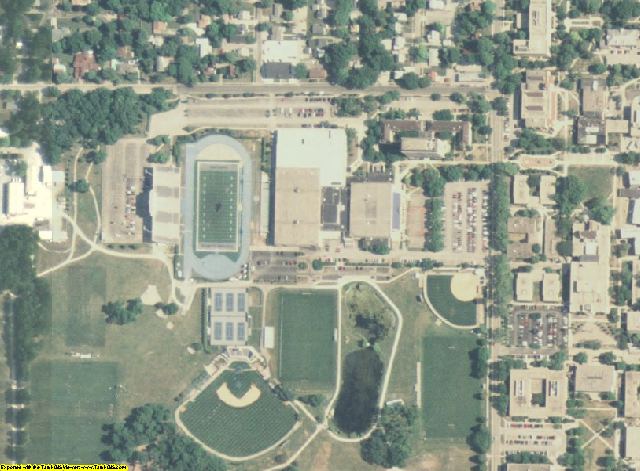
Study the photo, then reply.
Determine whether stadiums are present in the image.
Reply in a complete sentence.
Yes, I can see a stadium in this picture.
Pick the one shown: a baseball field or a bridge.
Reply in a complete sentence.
It is a baseball field that can be seen here.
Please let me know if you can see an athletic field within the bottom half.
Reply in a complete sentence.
Yes, you'll find an athletic field within the bottom half.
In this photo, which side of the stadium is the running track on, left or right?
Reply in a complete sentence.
Relative to the stadium, the running track is on the left.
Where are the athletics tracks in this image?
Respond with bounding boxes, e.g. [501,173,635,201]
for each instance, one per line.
[186,134,251,282]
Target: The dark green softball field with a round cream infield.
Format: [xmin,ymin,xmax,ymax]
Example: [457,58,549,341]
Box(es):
[426,274,485,325]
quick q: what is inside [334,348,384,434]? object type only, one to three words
pond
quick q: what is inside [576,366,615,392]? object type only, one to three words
building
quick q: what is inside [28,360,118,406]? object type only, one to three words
sports field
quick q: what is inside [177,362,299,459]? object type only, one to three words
baseball field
